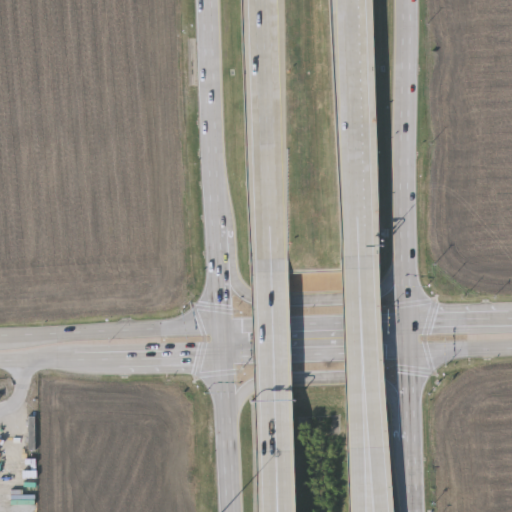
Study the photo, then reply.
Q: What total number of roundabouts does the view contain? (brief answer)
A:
zero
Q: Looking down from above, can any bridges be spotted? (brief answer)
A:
Yes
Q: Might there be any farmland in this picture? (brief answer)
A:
Yes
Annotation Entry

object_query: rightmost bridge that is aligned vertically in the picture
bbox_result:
[342,260,394,512]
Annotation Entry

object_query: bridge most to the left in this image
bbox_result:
[251,260,296,512]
